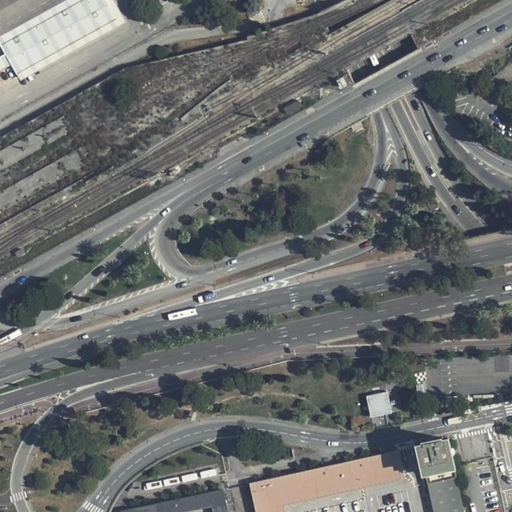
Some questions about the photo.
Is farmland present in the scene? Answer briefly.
No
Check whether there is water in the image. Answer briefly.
No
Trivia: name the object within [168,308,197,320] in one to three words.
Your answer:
vehicle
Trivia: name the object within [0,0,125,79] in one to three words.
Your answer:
building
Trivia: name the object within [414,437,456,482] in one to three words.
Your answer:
building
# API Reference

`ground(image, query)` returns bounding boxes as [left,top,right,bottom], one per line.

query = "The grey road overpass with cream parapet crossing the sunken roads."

[338,48,432,132]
